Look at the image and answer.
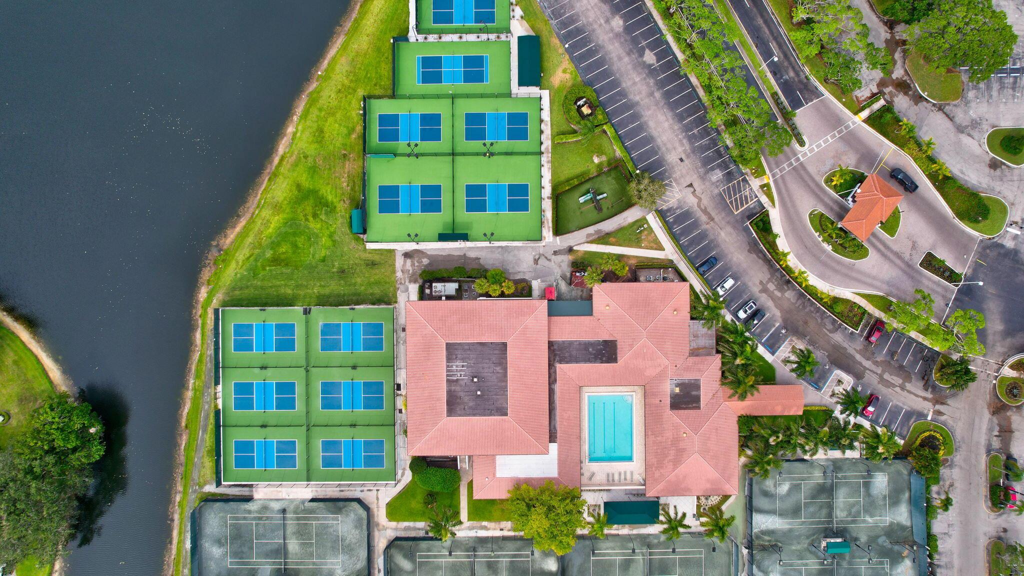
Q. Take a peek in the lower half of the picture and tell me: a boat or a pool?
pool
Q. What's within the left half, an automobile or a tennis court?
tennis court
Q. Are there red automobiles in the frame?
Yes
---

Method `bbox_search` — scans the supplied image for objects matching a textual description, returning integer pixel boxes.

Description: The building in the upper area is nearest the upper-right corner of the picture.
[835,173,904,243]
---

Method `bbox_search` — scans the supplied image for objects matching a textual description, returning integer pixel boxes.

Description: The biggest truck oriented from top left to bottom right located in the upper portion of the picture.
[891,167,923,193]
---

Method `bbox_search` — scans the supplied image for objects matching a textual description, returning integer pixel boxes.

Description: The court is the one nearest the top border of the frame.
[417,0,510,34]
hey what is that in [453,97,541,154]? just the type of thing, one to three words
sports court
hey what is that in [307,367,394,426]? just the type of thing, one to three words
sports court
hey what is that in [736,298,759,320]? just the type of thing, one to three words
car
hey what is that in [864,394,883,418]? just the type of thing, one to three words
car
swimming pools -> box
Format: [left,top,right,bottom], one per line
[587,393,635,463]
